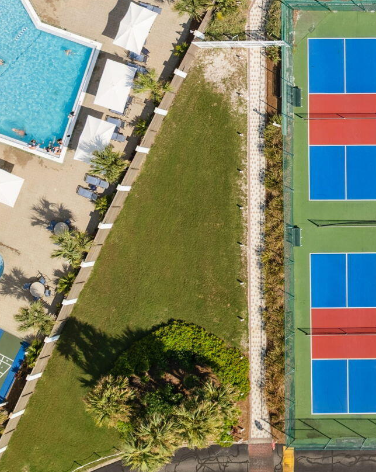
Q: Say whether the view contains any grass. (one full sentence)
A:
Yes, there is grass in the image.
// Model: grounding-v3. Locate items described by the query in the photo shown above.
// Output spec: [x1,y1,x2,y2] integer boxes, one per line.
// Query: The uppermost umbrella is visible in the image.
[113,2,159,55]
